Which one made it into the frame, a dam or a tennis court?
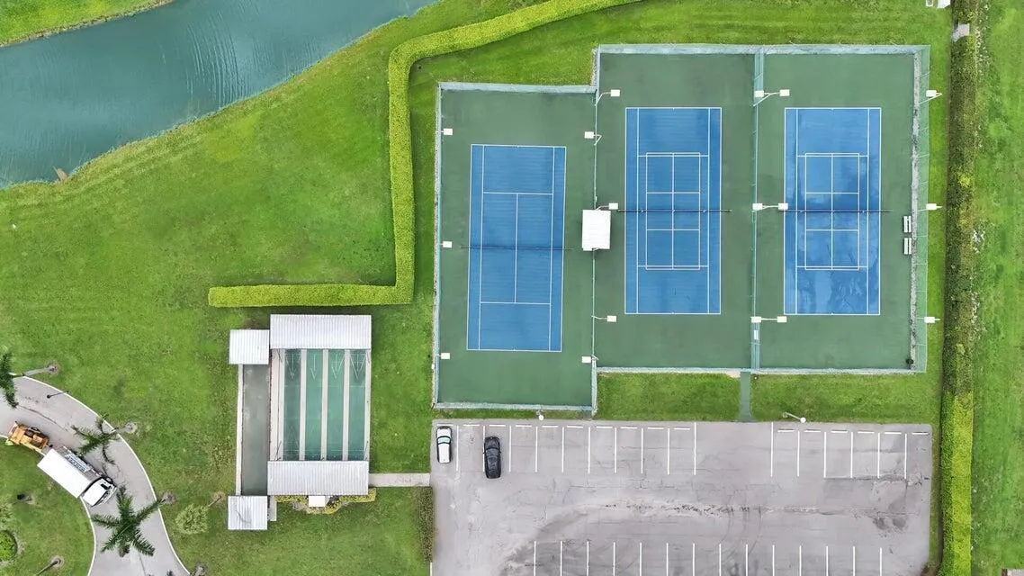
tennis court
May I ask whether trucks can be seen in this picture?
Yes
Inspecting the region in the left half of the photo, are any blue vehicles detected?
No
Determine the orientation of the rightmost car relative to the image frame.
up and down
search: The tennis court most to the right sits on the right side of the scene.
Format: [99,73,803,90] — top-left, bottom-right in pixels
[752,54,914,369]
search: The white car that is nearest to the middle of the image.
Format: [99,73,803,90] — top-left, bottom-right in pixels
[435,425,453,464]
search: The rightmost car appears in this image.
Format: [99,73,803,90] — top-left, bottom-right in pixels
[482,435,502,479]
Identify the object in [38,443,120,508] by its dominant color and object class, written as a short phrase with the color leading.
white truck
